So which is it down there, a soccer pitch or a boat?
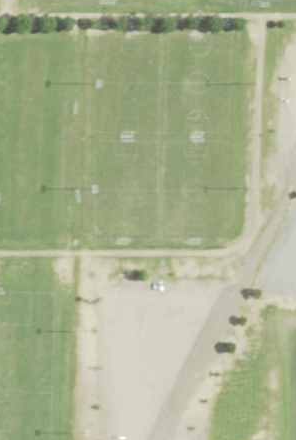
soccer pitch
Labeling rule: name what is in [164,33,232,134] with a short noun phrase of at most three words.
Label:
soccer field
